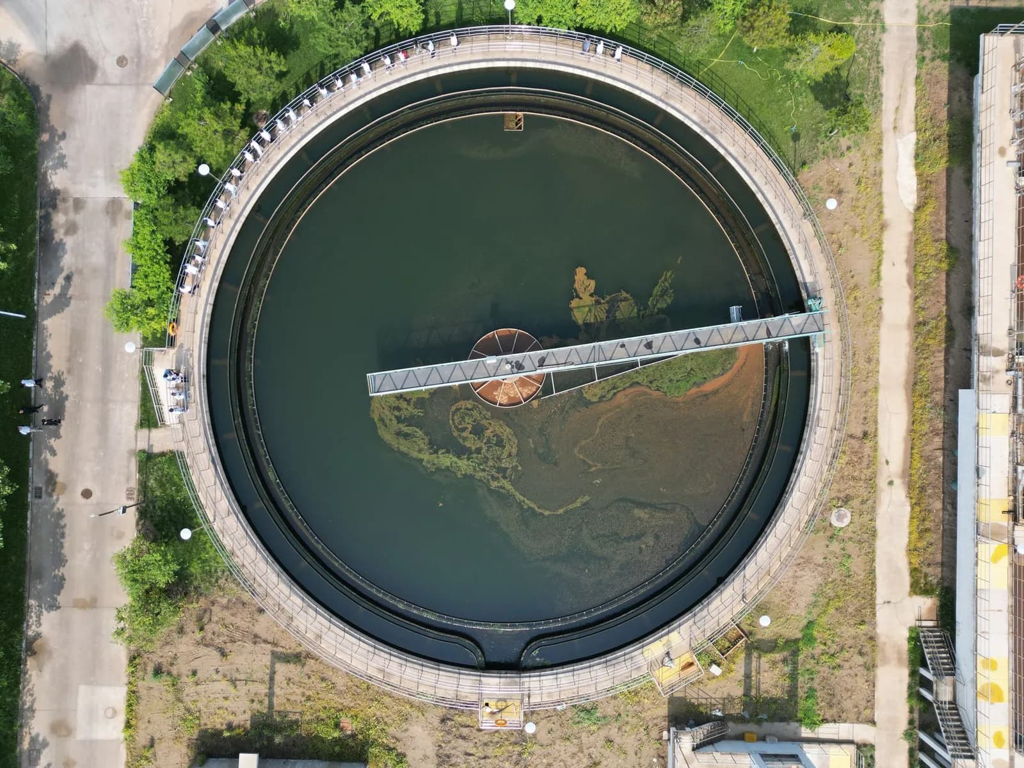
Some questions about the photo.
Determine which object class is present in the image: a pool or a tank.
tank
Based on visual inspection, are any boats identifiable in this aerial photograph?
No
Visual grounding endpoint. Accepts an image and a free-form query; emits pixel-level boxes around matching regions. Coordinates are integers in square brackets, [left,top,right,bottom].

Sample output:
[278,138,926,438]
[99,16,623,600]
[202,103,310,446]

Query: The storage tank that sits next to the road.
[152,33,841,719]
